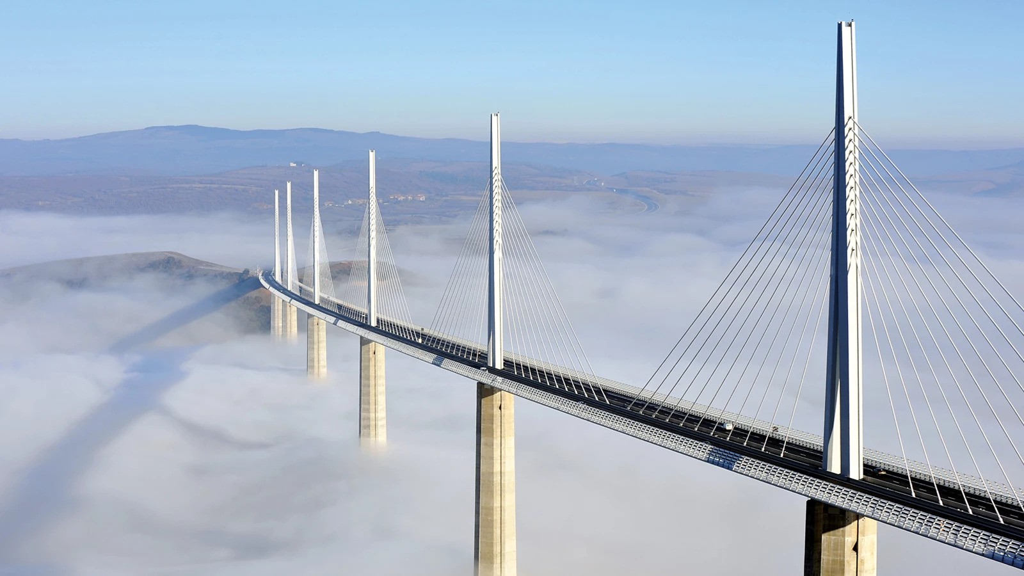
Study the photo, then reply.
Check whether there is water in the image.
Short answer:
Yes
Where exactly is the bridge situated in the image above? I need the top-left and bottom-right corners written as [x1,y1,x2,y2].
[259,17,1024,576]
